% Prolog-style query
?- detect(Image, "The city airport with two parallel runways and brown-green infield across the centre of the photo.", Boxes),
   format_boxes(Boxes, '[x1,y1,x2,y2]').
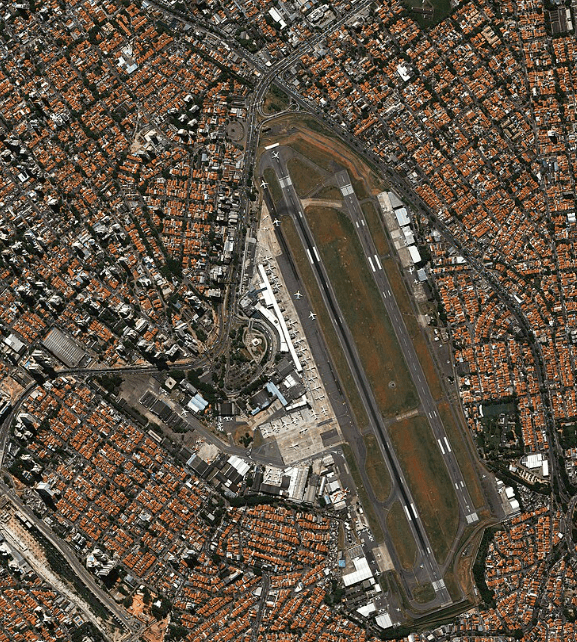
[163,112,520,634]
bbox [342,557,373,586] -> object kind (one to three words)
hangar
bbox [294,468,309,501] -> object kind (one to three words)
hangar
